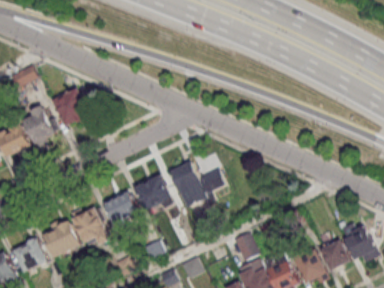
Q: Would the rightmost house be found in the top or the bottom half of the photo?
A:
bottom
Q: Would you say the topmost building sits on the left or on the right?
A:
left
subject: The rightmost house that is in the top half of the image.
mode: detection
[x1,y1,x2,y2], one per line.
[50,88,81,126]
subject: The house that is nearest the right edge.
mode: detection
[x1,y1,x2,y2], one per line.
[344,226,380,261]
